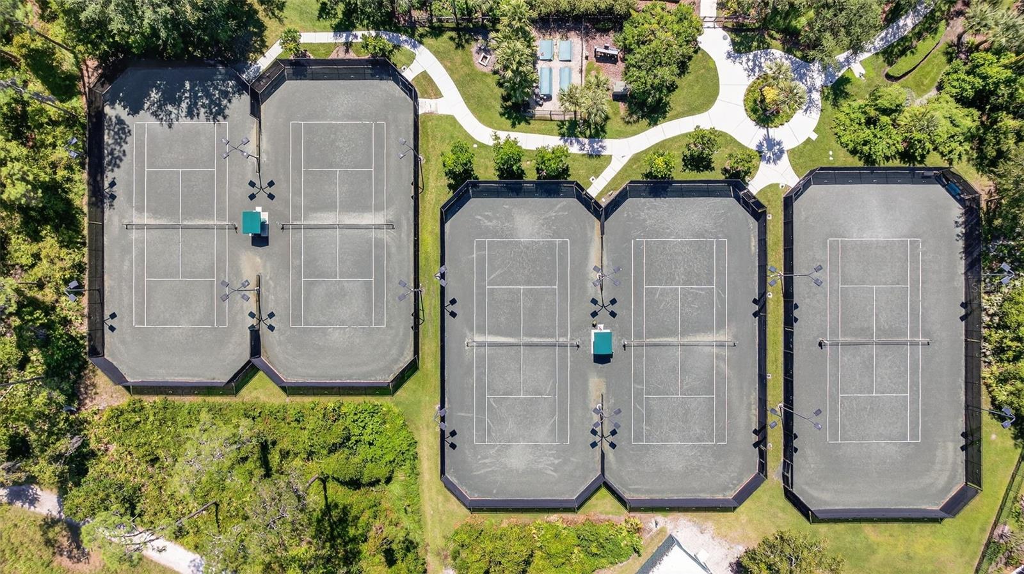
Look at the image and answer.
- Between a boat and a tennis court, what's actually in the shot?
tennis court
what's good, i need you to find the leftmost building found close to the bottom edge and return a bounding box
[628,533,713,574]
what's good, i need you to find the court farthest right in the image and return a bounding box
[784,171,965,510]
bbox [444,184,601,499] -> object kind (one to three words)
tennis court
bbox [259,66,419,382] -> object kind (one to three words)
tennis court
